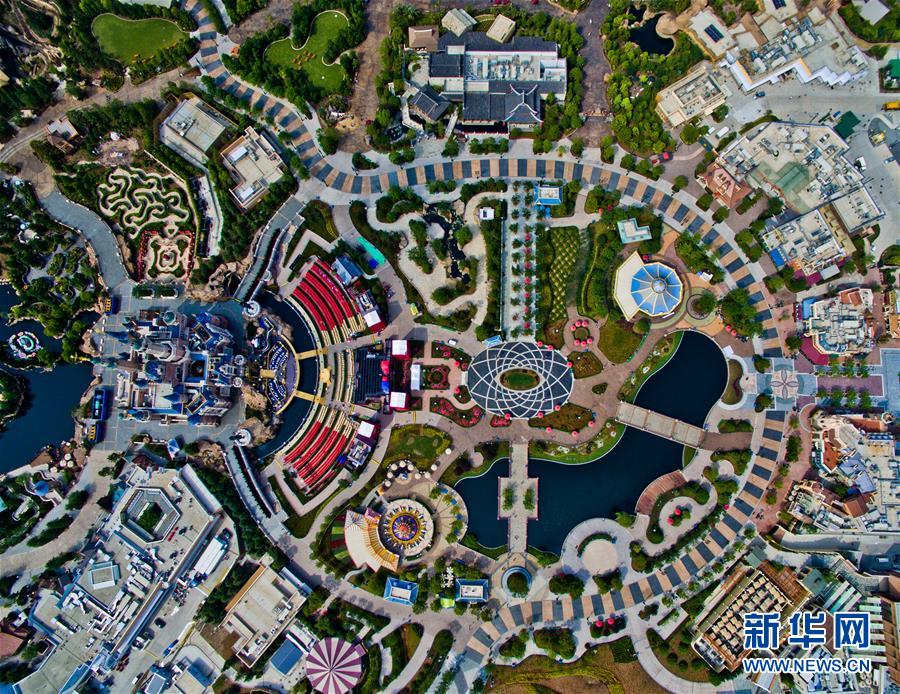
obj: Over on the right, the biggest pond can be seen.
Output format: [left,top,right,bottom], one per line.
[459,335,728,554]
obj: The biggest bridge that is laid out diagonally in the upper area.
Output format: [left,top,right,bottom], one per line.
[232,196,307,300]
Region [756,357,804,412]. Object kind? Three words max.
roundabout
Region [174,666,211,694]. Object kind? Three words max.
building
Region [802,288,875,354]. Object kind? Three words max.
building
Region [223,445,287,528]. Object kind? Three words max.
bridge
